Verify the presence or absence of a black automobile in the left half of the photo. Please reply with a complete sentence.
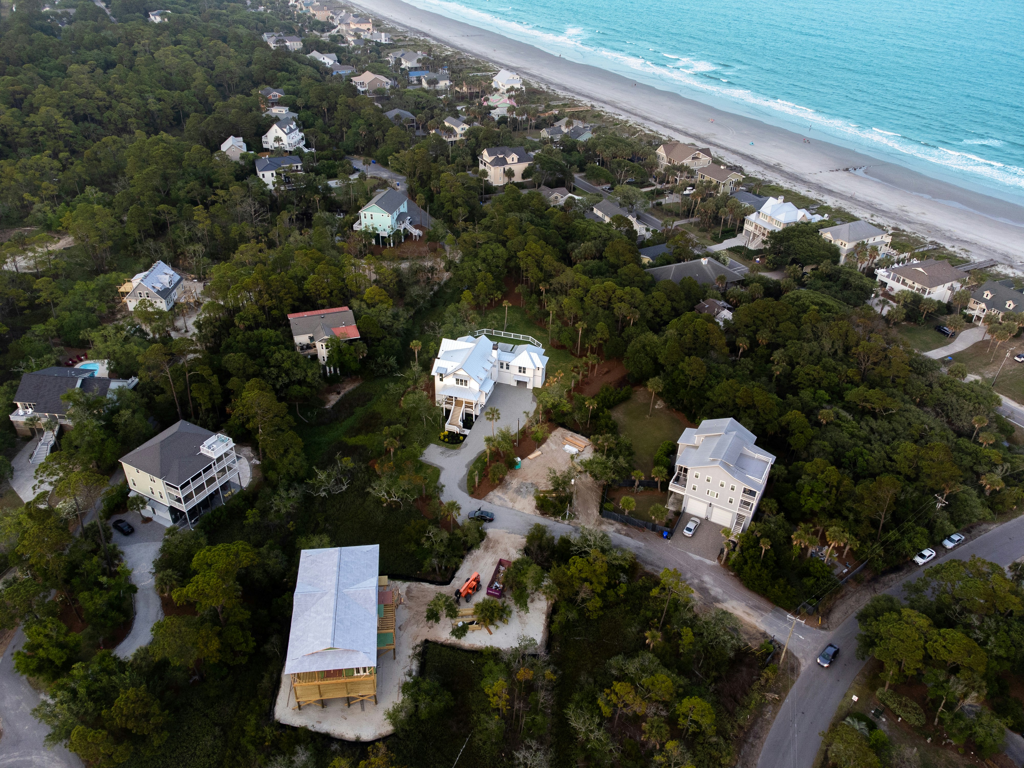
Yes, a black automobile is visible in the left half of the photo.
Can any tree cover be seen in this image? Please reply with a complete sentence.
Yes, the picture does contain tree cover.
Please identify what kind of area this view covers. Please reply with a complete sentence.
It's a residential area.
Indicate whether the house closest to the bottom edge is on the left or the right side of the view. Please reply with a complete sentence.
It is on the left.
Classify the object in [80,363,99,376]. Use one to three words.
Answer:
swimming pool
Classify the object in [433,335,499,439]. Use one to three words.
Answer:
house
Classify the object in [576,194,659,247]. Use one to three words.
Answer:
house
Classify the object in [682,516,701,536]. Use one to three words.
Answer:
car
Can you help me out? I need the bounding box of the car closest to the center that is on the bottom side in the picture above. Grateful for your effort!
[468,507,495,521]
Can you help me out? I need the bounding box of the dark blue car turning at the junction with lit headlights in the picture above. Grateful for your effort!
[818,641,843,668]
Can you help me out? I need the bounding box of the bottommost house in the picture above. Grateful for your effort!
[285,544,415,714]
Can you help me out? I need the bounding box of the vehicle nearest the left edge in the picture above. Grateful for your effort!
[110,517,136,533]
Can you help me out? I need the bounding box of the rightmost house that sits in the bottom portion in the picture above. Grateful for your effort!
[667,419,776,533]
